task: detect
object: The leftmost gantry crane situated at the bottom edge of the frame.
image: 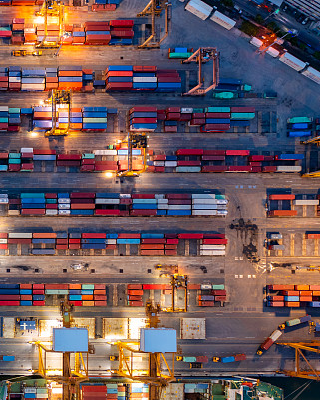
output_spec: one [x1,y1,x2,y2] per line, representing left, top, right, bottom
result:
[30,299,88,400]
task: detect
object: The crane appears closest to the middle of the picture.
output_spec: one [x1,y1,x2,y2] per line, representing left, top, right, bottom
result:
[117,134,147,180]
